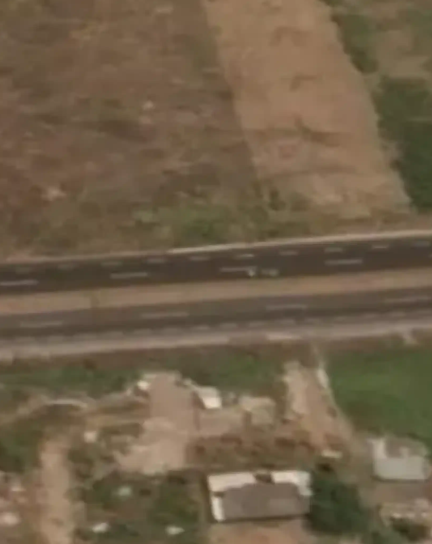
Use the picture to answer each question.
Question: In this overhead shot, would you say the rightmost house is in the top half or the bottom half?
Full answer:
The bottom half of the photo is where the rightmost house is.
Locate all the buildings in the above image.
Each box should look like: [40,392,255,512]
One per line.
[372,438,427,485]
[244,397,274,429]
[200,386,220,416]
[208,470,310,526]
